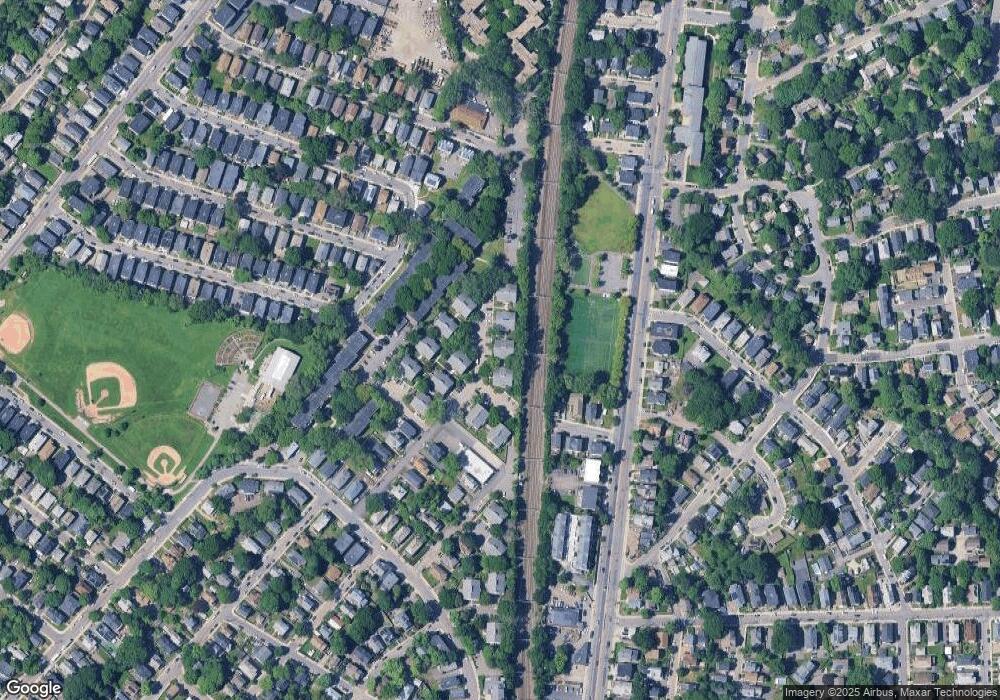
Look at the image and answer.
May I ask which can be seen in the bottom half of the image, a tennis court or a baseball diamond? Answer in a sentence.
It is a baseball diamond that can be seen in the bottom half of the image.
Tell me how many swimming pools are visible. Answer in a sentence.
The photo contains no swimming pools.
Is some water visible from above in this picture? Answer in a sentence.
No, no water is visible.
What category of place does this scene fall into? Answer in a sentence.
What you see here is a residential area.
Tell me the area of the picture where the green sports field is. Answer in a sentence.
You can find the green sports field in the center area of the picture.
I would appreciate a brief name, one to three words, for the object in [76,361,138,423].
baseball field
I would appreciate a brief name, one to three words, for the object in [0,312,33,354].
baseball field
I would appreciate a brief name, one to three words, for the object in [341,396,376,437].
building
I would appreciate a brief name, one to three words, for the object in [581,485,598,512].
house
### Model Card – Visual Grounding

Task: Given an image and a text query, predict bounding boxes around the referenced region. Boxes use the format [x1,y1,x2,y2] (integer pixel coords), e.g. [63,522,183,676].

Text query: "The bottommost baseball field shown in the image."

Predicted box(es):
[144,445,186,486]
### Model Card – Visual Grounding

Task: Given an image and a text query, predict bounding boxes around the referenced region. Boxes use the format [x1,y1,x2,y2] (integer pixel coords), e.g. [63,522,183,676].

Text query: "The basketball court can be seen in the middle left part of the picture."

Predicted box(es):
[189,381,222,421]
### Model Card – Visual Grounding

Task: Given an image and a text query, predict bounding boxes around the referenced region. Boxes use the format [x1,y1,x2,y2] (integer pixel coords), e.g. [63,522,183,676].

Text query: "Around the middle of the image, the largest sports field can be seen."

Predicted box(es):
[566,290,622,374]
